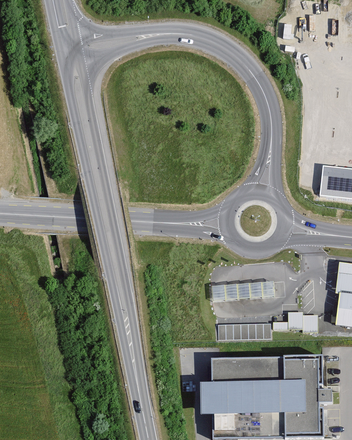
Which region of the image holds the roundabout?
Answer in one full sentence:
The roundabout is in the right part of the image.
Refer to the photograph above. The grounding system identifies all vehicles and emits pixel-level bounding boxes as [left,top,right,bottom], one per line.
[328,368,340,374]
[299,15,306,42]
[328,378,340,384]
[323,0,329,12]
[330,426,344,432]
[134,400,140,413]
[304,221,317,229]
[315,0,322,15]
[304,52,312,68]
[210,232,224,240]
[179,37,193,44]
